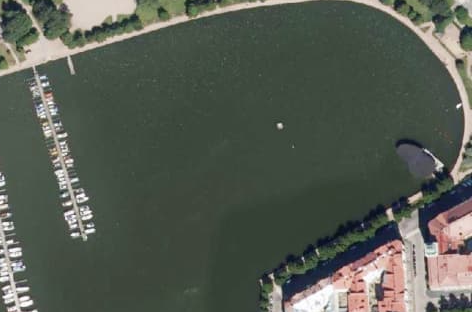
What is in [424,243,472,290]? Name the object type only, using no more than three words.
house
